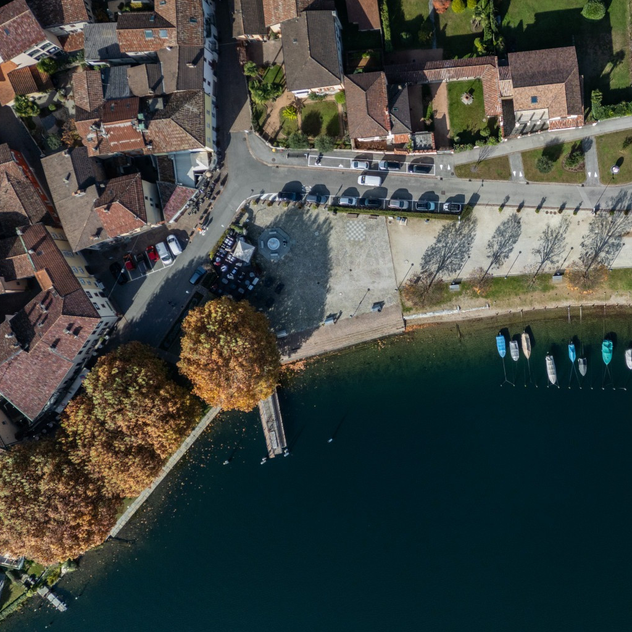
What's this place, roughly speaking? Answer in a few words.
residential area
